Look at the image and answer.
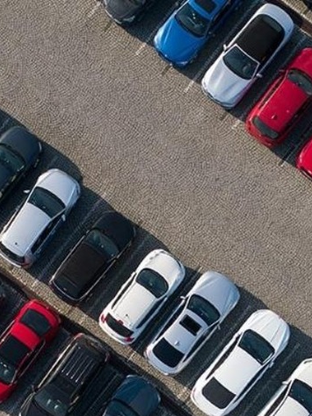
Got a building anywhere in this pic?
No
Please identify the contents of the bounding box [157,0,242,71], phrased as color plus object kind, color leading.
blue car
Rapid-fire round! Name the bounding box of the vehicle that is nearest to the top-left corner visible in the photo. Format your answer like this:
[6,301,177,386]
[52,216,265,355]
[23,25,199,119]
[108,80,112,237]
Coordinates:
[108,0,166,32]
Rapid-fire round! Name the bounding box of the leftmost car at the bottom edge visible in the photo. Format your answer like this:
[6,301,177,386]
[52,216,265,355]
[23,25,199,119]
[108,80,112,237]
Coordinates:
[0,299,63,404]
